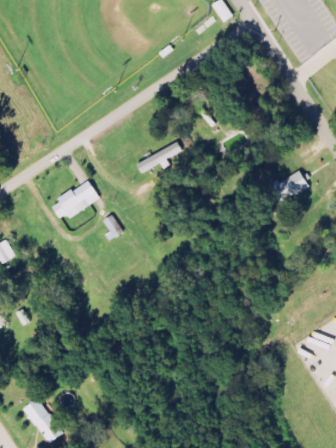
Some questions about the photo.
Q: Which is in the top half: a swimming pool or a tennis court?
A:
swimming pool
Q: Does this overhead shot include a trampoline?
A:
No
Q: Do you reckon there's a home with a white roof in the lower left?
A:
Yes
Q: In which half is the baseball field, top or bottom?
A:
top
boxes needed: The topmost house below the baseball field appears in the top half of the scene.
[136,142,183,173]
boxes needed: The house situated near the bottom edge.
[23,402,64,446]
